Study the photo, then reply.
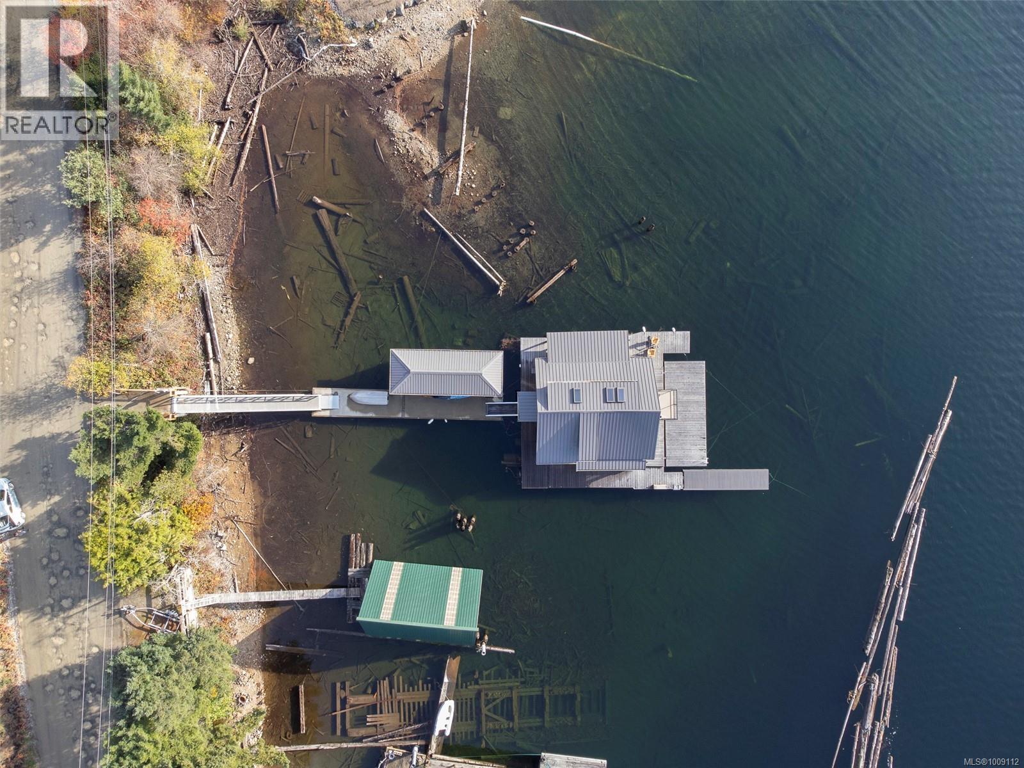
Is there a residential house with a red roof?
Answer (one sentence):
No, no residential house with a red roof is visible in the view.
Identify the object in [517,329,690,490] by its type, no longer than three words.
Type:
house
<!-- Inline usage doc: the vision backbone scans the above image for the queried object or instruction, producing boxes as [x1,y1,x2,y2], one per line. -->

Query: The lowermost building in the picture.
[356,560,485,647]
